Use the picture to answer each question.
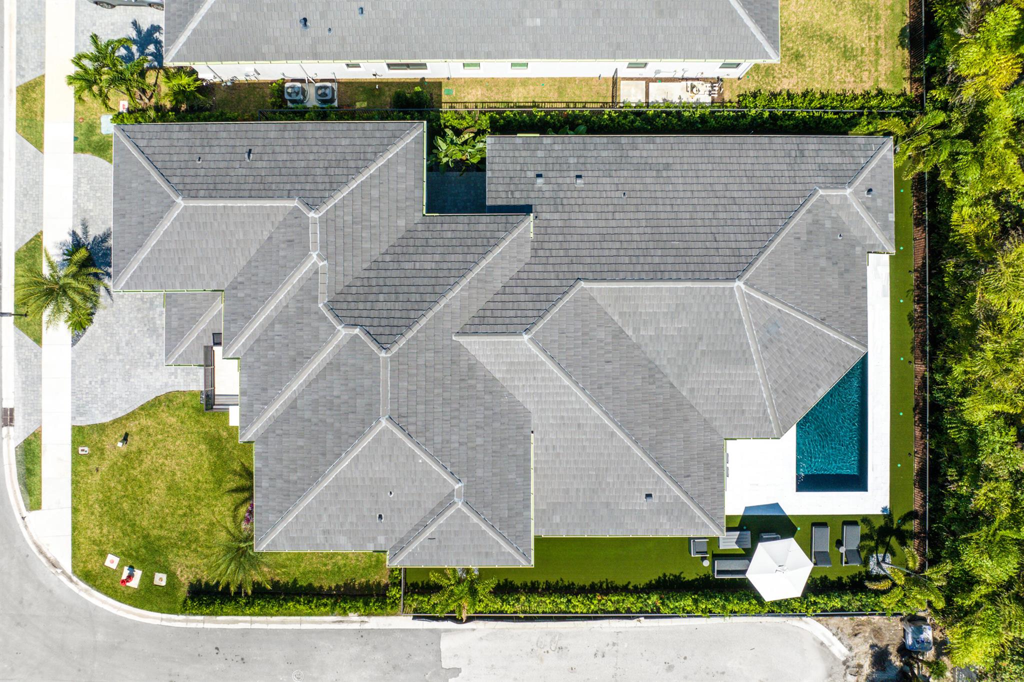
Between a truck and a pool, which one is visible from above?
pool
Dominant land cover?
buildings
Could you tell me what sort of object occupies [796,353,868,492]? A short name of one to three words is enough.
swimming pool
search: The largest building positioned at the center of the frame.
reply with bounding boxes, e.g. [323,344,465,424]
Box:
[110,121,897,570]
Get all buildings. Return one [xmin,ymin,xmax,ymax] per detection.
[110,121,897,570]
[162,0,781,84]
